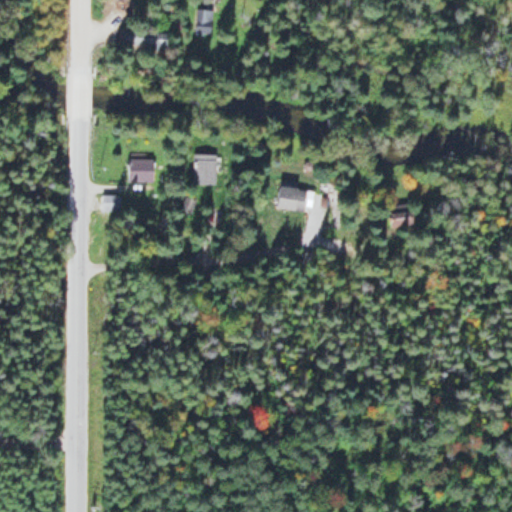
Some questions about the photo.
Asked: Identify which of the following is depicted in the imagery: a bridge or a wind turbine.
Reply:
bridge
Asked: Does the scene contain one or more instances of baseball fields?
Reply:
No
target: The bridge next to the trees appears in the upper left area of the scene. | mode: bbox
[62,66,96,124]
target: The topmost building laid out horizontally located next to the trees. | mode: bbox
[133,35,166,52]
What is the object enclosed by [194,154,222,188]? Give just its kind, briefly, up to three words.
house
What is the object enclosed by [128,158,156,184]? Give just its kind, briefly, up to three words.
house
